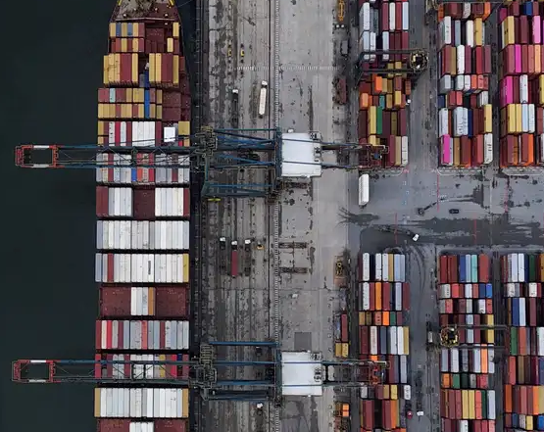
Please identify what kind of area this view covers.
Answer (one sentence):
The picture captures a port.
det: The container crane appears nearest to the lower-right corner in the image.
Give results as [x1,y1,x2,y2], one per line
[423,319,510,353]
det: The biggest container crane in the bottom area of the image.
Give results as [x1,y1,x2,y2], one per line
[11,327,396,404]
